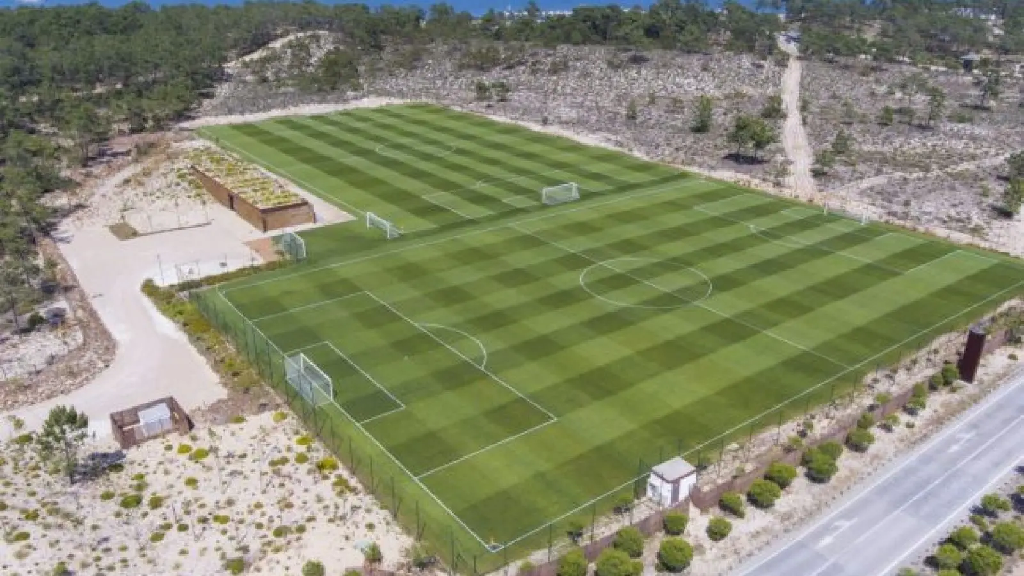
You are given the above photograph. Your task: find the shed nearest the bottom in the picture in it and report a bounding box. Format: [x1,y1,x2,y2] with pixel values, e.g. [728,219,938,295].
[644,455,700,507]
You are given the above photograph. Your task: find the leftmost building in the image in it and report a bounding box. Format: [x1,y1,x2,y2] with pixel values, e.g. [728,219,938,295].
[186,155,315,232]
